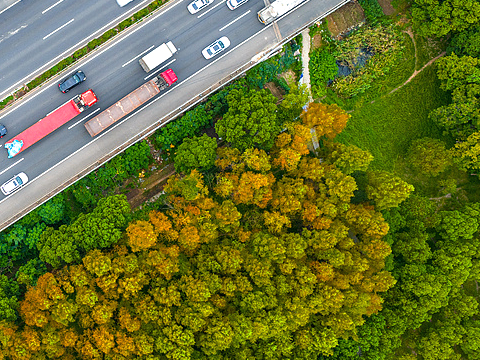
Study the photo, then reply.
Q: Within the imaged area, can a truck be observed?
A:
Yes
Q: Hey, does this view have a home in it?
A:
No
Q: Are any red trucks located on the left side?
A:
Yes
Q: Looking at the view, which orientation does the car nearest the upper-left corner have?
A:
at an angle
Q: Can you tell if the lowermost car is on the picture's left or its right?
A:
left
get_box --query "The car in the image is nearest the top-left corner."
[58,70,86,93]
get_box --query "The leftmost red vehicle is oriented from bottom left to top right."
[2,87,99,158]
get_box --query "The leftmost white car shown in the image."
[0,170,29,194]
